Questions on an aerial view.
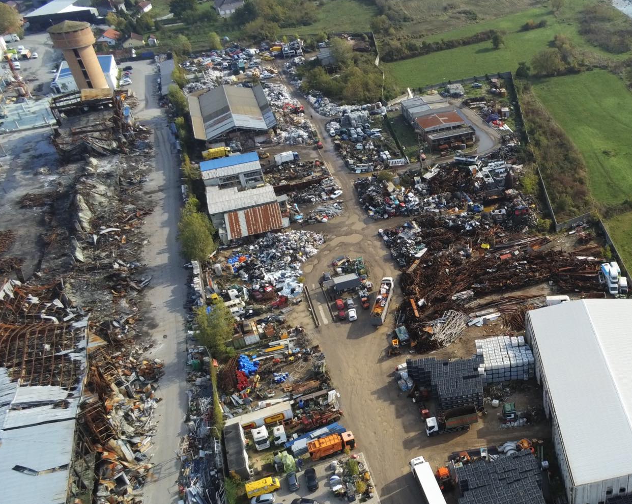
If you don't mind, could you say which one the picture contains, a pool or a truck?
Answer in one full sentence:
Looking from above, you can make out a truck.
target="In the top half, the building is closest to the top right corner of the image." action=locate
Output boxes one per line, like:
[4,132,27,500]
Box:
[401,95,476,151]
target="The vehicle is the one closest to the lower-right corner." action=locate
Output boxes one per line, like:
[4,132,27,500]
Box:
[503,403,515,424]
